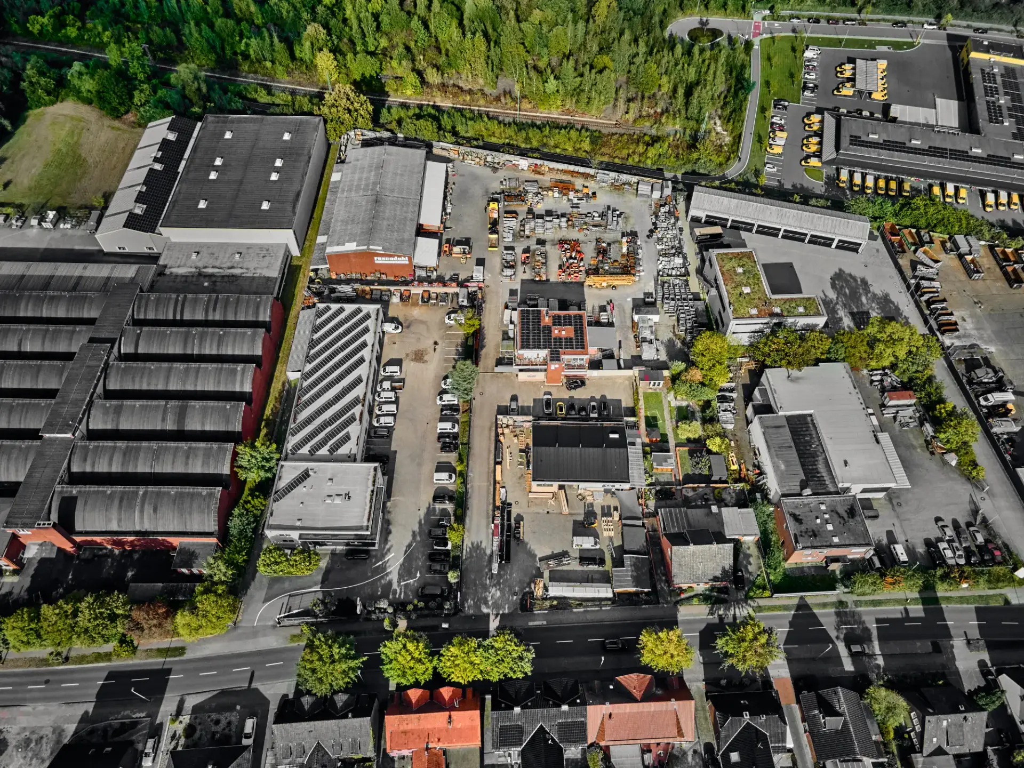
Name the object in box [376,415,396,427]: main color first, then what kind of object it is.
white vehicle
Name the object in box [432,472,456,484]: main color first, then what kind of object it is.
white vehicle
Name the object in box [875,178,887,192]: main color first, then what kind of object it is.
yellow vehicle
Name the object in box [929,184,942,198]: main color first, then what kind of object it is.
yellow vehicle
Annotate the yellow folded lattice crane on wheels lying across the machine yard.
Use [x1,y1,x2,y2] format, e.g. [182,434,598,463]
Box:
[586,270,635,289]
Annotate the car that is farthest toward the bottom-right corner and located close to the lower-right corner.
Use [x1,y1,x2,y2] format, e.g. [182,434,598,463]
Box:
[985,659,1001,679]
